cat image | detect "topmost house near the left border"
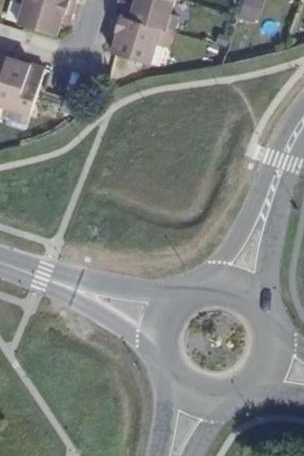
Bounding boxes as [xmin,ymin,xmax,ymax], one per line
[10,0,76,36]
